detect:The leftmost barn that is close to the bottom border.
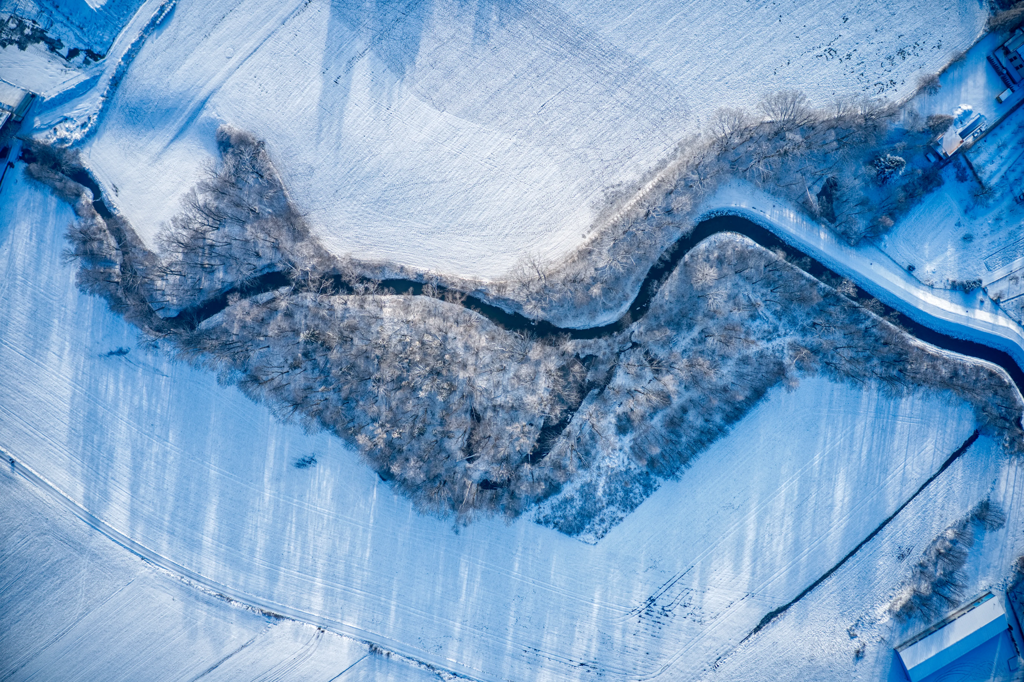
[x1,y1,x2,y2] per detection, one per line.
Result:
[894,591,1015,682]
